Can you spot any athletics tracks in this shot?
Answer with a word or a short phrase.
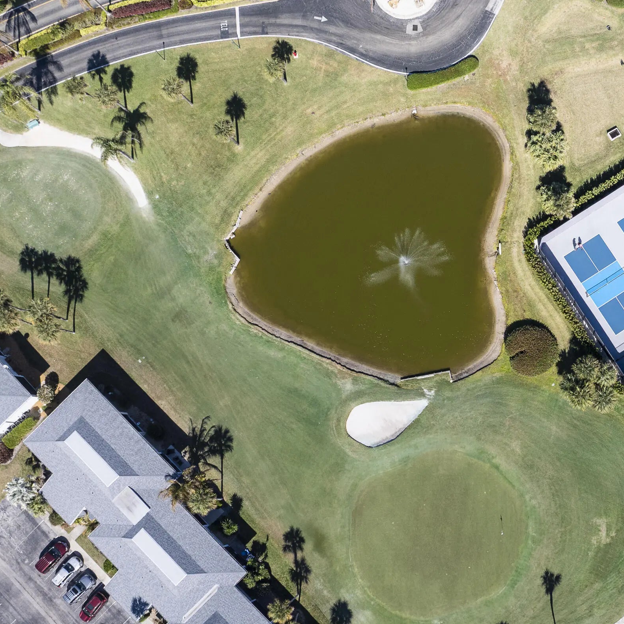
No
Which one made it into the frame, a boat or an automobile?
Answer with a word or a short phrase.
automobile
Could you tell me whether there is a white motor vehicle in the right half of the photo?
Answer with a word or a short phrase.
No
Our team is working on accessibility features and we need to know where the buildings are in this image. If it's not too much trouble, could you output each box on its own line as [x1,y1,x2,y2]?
[24,379,283,624]
[0,333,53,438]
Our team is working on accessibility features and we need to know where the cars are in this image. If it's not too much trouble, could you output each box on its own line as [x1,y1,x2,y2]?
[79,590,110,623]
[32,541,70,575]
[49,556,84,589]
[61,573,97,607]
